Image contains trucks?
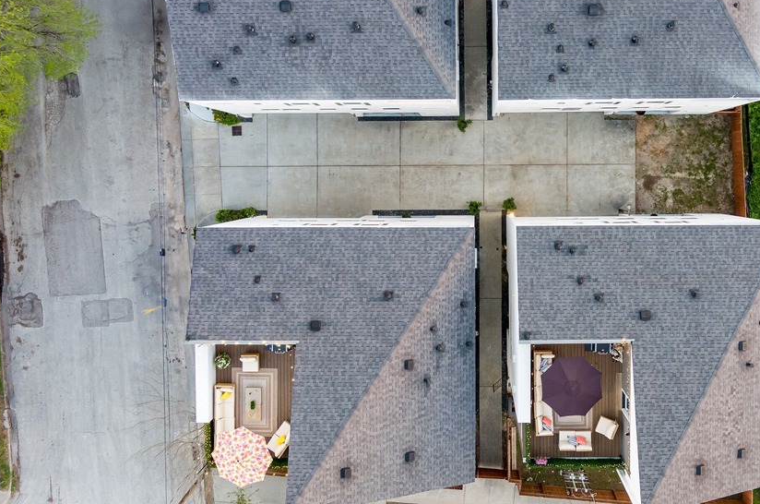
No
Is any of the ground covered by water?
No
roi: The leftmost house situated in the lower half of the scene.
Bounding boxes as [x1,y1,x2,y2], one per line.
[183,216,477,504]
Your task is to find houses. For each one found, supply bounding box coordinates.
[507,213,760,504]
[492,0,760,115]
[183,216,477,504]
[168,0,460,115]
